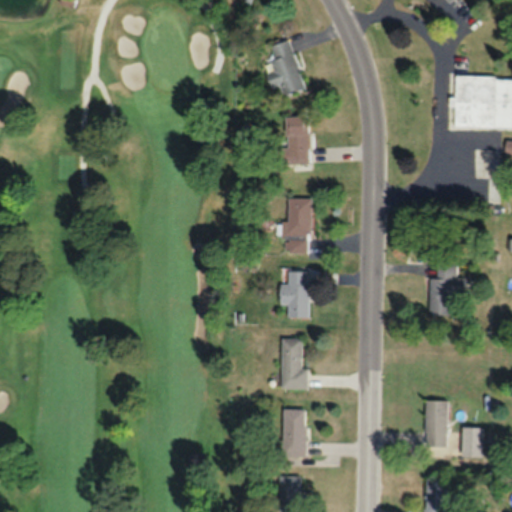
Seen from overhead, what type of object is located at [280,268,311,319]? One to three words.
house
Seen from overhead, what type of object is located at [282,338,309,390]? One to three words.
house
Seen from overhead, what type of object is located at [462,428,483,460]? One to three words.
building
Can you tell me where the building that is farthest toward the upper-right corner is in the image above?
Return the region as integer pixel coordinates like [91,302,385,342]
[450,74,512,130]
